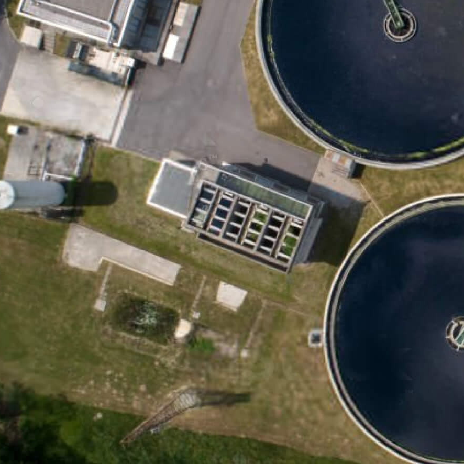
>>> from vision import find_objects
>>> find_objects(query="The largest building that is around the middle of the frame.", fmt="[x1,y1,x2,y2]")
[183,160,329,273]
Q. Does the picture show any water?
Yes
